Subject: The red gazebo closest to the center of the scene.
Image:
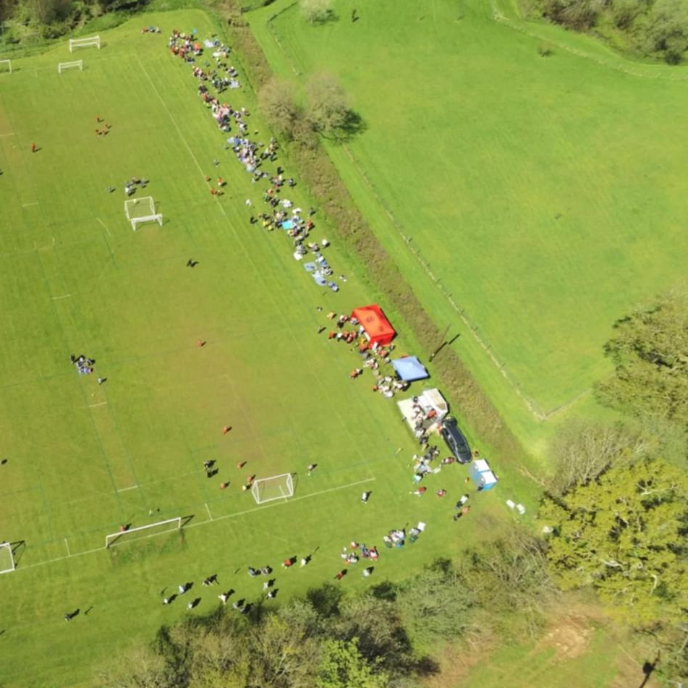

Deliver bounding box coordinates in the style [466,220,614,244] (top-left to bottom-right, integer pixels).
[350,304,395,348]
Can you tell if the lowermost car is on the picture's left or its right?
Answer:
right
